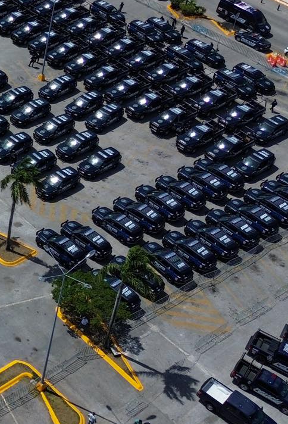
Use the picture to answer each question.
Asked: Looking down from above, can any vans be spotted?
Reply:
Yes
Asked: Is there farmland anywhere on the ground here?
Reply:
No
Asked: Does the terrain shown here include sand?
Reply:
No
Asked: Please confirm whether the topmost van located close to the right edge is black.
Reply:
Yes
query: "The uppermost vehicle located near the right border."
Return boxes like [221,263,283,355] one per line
[214,6,276,46]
